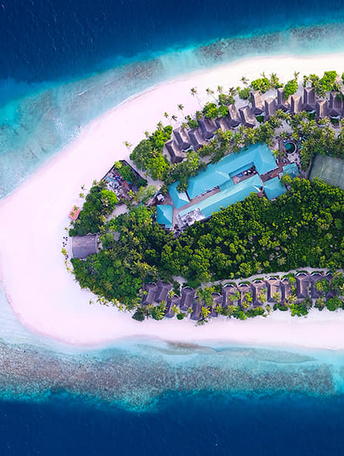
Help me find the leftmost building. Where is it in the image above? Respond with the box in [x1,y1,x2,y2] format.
[70,234,98,257]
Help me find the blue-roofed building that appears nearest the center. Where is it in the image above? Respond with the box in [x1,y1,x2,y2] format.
[157,205,173,227]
